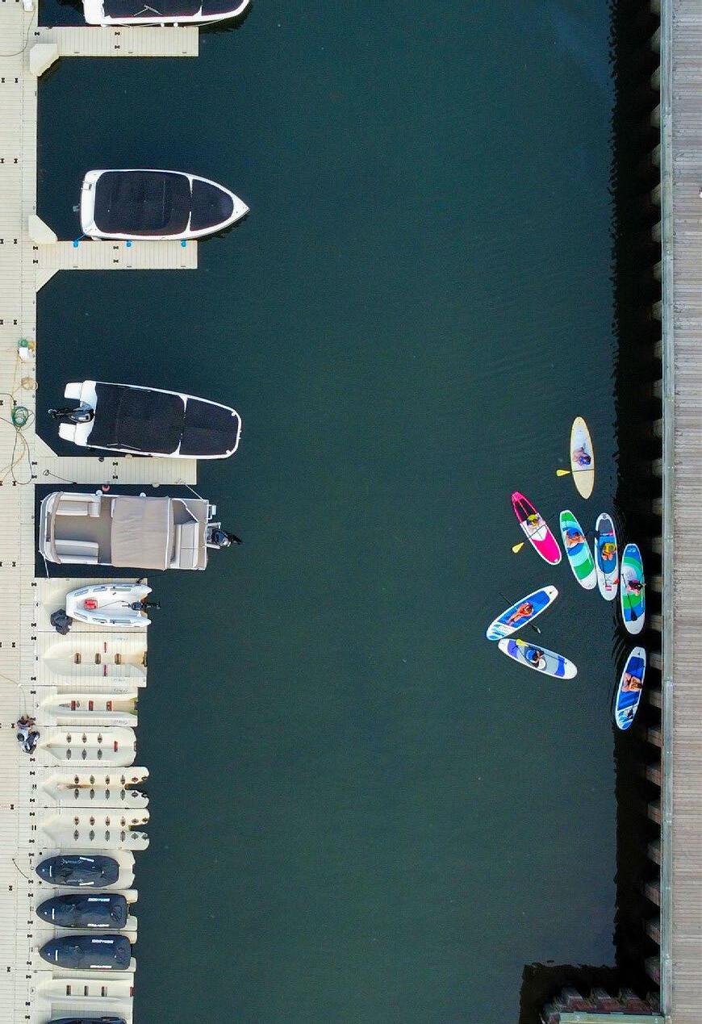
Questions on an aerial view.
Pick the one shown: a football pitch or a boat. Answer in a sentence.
It is a boat that can be seen here.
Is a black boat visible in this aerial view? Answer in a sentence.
Yes, there's a black boat down there.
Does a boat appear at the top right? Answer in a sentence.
No, no boat is visible at the top right.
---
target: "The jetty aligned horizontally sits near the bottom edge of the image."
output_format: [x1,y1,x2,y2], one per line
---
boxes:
[532,986,661,1024]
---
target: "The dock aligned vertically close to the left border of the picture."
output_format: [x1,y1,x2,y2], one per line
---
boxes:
[0,0,41,1024]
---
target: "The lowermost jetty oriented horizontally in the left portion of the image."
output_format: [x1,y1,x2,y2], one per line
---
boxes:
[32,434,198,484]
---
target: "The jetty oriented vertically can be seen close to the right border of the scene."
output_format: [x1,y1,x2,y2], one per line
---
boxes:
[648,0,702,1024]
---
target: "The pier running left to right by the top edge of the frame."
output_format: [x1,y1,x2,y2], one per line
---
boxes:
[31,28,200,84]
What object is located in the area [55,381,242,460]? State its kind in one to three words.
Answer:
boat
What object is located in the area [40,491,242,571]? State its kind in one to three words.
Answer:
boat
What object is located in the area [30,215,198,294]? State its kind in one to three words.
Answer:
pier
